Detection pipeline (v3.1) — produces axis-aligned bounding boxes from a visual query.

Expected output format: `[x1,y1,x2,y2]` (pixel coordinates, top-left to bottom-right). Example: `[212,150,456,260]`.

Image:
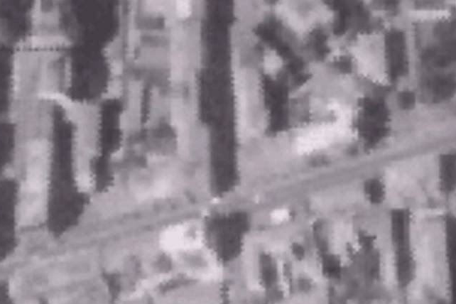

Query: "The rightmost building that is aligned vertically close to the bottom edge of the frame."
[406,212,447,304]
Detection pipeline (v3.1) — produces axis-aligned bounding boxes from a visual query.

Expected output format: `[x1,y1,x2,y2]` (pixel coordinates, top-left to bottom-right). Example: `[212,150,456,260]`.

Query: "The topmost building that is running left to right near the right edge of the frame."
[405,7,454,24]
